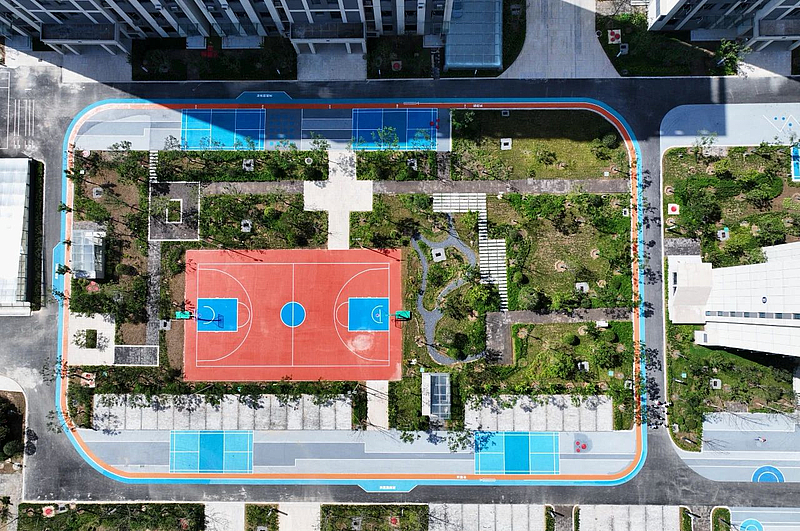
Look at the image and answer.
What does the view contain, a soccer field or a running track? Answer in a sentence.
The one in the frame is a running track.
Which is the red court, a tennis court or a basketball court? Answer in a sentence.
The red court is a basketball court.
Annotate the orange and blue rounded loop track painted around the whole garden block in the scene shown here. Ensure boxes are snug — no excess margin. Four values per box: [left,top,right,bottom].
[52,91,647,493]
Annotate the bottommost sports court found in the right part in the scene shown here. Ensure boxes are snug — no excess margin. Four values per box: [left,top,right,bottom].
[474,431,559,474]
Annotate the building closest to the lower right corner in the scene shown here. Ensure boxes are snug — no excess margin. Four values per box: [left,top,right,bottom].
[666,241,800,361]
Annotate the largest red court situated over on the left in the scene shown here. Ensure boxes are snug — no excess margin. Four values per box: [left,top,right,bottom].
[184,250,402,382]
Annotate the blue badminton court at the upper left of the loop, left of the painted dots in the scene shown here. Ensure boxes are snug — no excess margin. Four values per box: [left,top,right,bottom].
[181,109,266,151]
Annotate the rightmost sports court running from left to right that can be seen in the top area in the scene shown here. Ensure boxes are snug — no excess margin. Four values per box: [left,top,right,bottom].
[352,109,438,151]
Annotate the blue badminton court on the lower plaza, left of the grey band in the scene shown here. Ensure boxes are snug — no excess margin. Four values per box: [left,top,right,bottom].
[170,430,253,473]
